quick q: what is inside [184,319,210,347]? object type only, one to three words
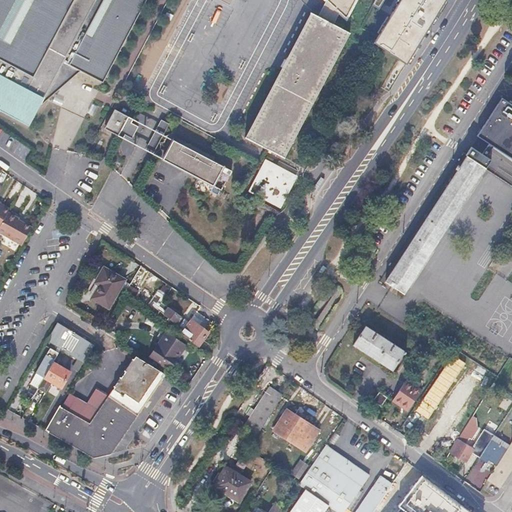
house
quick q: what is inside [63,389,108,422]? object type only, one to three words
shed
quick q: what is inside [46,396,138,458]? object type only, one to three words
building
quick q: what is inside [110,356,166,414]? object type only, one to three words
building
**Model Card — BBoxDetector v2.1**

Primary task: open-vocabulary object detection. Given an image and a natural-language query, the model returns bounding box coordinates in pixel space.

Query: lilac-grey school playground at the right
[372,156,512,355]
